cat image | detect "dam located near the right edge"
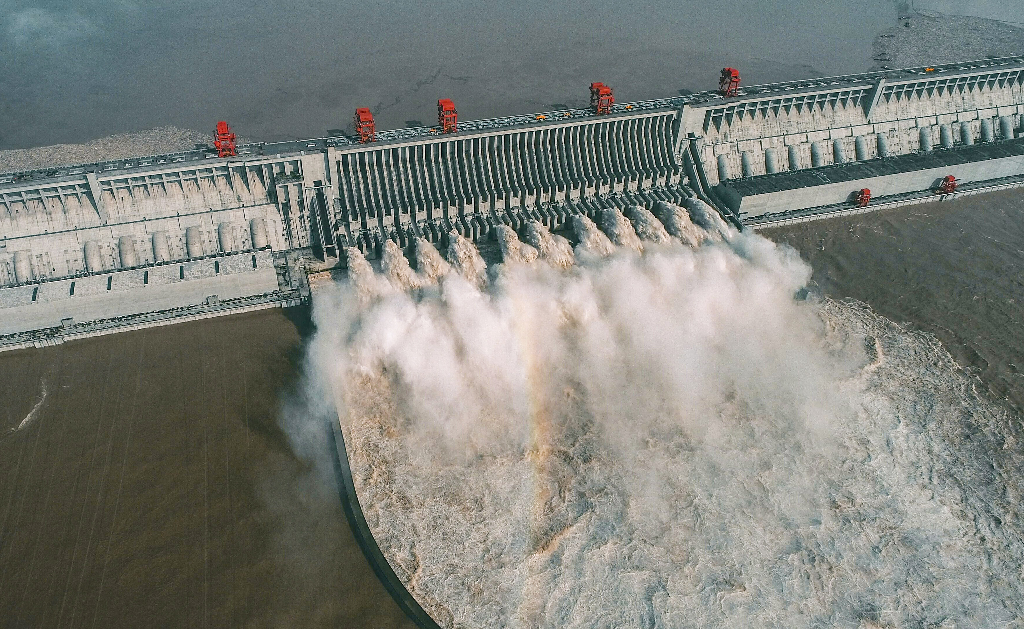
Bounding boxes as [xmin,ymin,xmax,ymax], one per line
[704,68,1024,197]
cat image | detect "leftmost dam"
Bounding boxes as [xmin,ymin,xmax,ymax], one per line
[0,159,286,286]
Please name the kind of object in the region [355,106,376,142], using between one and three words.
container crane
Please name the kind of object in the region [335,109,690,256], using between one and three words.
dam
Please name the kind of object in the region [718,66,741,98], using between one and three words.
container crane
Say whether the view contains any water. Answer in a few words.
Yes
